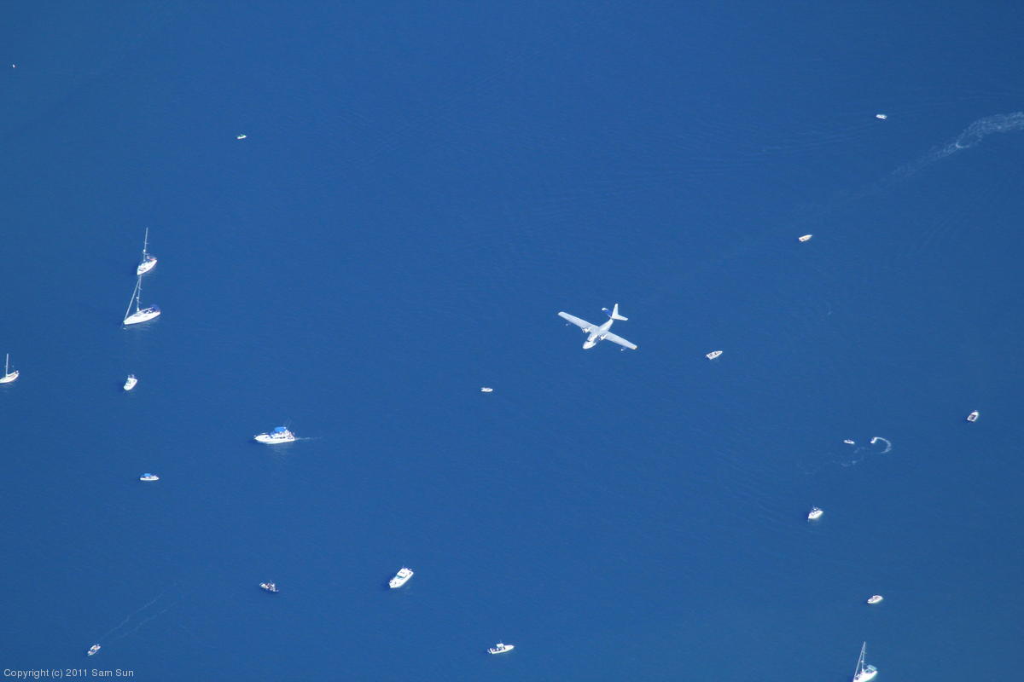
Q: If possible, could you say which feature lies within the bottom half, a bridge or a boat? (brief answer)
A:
boat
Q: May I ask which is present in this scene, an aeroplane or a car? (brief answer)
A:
aeroplane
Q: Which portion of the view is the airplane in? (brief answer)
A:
center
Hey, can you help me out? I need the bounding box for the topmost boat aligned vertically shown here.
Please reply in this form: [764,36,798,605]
[137,227,156,275]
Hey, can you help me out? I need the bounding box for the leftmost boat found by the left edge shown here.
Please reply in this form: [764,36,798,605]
[0,354,20,382]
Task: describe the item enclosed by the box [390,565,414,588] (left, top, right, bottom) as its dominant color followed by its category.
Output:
white boat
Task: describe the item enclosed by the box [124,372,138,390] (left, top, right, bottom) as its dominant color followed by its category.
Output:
white boat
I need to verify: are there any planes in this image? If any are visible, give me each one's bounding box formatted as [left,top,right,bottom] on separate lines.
[559,305,637,352]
